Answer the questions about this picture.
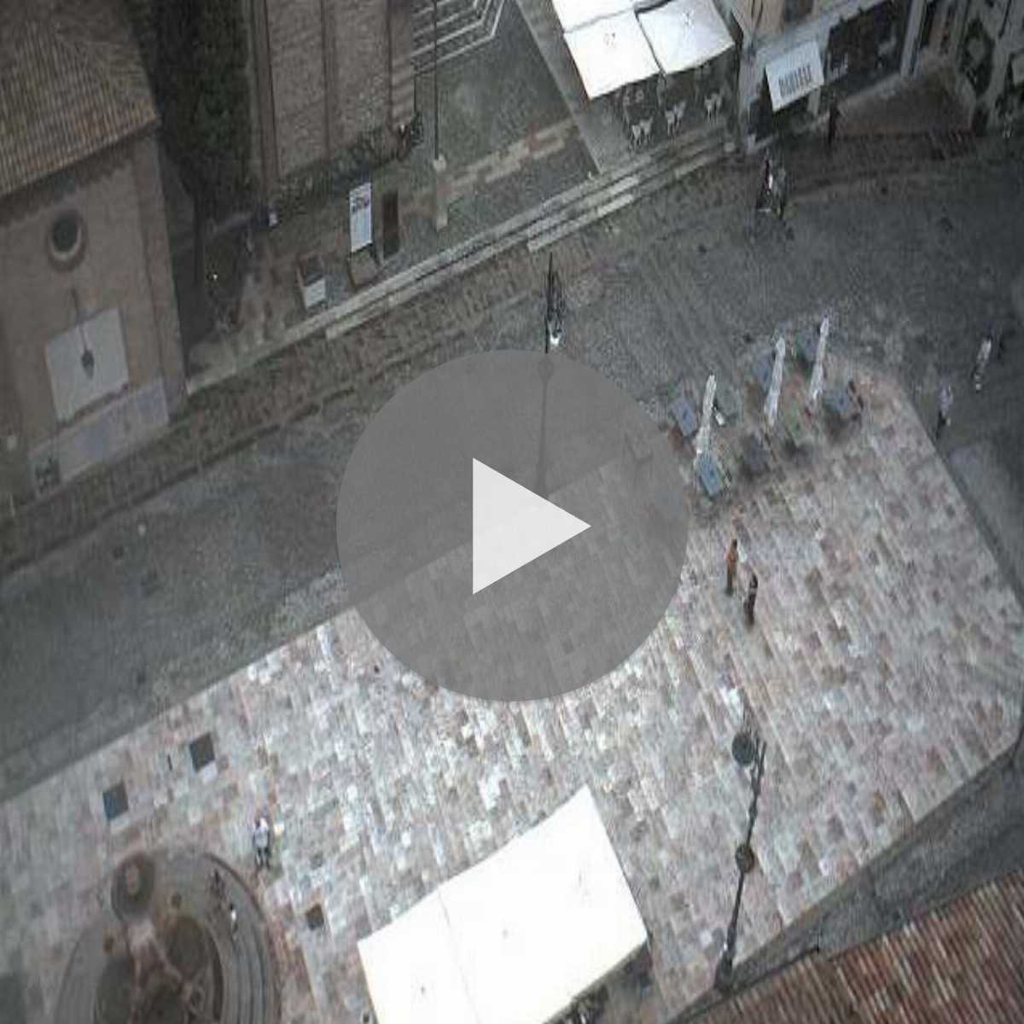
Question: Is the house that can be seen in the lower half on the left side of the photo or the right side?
right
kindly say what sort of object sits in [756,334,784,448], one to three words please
umbrella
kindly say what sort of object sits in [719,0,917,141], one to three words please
building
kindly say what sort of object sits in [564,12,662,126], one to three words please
umbrella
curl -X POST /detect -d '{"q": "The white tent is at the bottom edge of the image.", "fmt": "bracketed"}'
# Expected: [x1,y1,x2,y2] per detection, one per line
[358,789,647,1024]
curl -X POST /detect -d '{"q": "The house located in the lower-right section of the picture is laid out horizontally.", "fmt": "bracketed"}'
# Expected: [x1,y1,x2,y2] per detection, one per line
[678,869,1024,1024]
